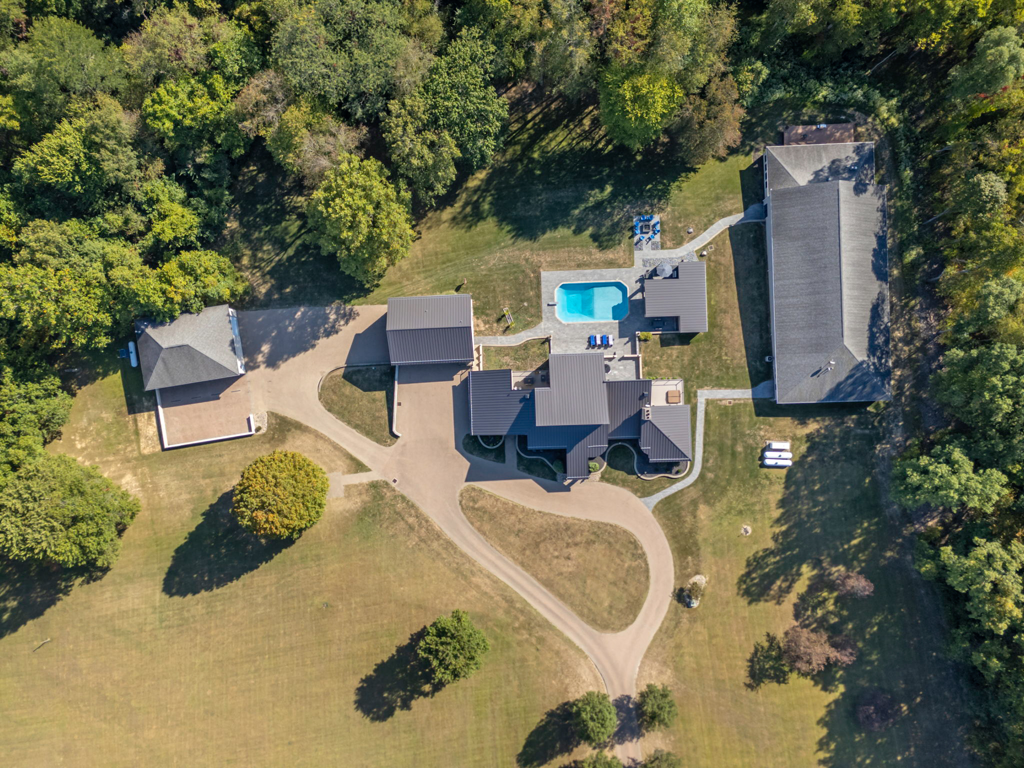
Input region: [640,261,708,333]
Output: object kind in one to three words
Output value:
building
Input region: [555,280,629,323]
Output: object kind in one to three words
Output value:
swimming pool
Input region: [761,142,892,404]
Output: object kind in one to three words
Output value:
barn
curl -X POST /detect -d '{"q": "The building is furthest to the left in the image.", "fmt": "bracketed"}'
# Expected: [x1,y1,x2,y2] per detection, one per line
[135,305,245,390]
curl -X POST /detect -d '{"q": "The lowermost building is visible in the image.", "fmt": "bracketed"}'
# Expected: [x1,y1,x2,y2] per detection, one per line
[469,353,693,479]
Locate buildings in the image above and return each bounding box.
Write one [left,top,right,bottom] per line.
[761,142,892,404]
[640,261,708,333]
[135,305,245,390]
[386,294,475,366]
[469,353,693,479]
